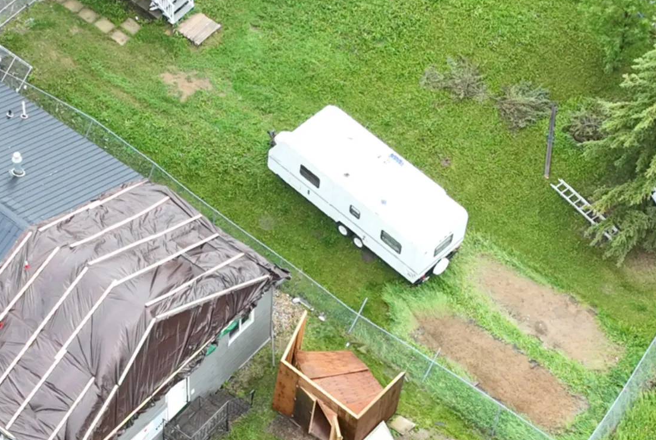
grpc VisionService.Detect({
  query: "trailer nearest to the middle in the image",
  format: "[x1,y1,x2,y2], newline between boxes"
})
[268,105,466,286]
